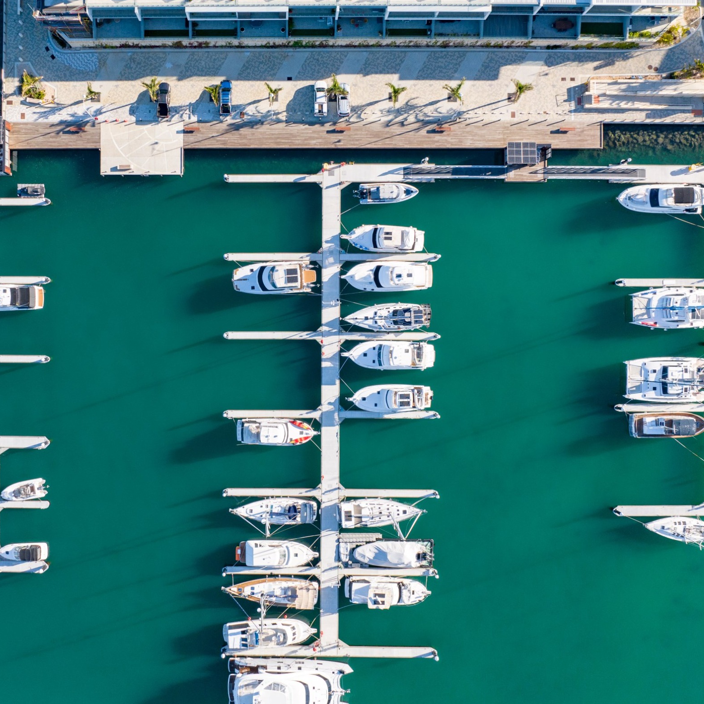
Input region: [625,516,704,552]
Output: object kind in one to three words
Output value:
boat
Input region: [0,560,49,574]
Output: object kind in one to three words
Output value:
pier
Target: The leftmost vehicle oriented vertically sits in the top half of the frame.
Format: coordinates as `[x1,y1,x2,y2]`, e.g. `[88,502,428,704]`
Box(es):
[156,82,172,119]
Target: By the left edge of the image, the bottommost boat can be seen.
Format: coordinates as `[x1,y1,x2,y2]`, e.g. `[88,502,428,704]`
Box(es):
[0,540,48,561]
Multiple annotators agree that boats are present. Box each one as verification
[625,516,704,552]
[223,575,321,632]
[0,540,48,561]
[616,184,704,226]
[223,616,318,648]
[25,187,48,195]
[340,261,432,295]
[228,655,354,704]
[625,412,704,460]
[336,495,427,538]
[345,383,433,414]
[229,496,319,536]
[233,418,321,445]
[341,182,419,215]
[289,421,310,430]
[340,299,431,334]
[341,223,427,255]
[233,261,319,295]
[621,354,704,401]
[0,478,49,499]
[233,535,321,568]
[628,287,704,330]
[340,577,431,610]
[0,285,45,310]
[339,339,435,373]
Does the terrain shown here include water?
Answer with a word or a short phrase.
Yes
